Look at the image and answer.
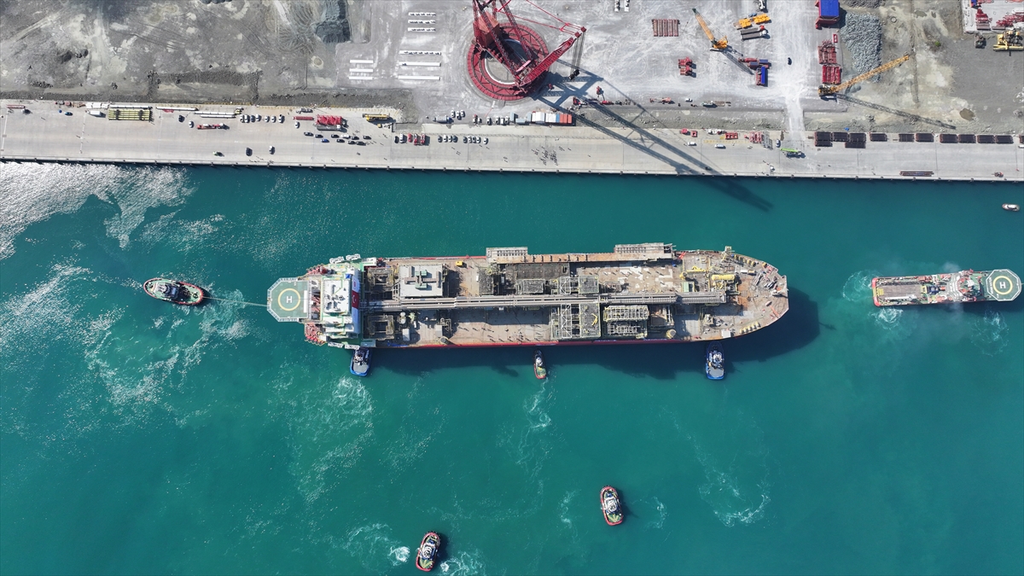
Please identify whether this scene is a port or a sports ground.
port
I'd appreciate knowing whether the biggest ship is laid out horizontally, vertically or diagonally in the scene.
horizontally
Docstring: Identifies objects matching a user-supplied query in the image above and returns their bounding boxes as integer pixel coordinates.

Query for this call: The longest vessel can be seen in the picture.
[267,243,790,351]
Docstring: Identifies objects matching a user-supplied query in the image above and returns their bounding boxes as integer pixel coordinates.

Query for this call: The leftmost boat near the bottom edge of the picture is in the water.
[412,532,441,575]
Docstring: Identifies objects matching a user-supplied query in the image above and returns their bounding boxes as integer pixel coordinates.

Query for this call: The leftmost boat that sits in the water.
[140,277,205,309]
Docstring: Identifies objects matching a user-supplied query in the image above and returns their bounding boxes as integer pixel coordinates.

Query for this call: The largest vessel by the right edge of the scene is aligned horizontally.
[867,268,1022,308]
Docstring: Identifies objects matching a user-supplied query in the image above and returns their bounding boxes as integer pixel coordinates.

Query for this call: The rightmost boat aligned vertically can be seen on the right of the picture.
[706,340,726,381]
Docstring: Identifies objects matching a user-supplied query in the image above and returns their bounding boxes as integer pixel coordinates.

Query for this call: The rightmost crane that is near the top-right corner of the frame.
[824,54,915,95]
